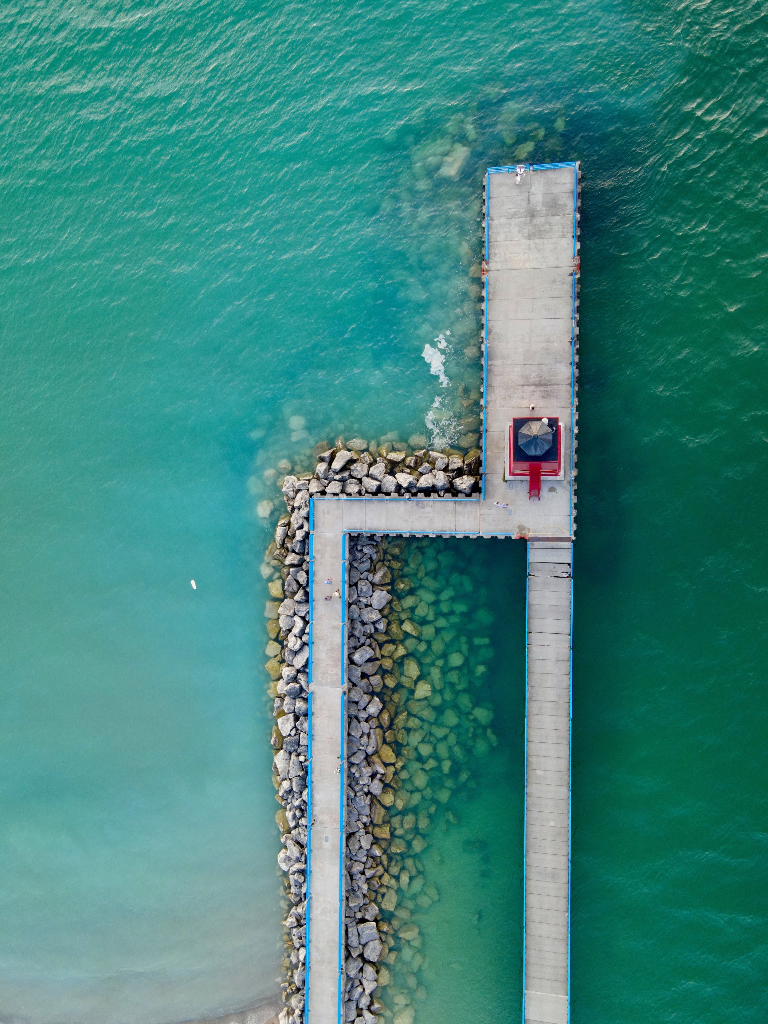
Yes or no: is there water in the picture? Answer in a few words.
Yes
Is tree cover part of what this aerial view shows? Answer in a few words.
No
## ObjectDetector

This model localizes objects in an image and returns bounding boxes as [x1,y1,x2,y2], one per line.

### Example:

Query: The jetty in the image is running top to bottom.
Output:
[479,162,580,540]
